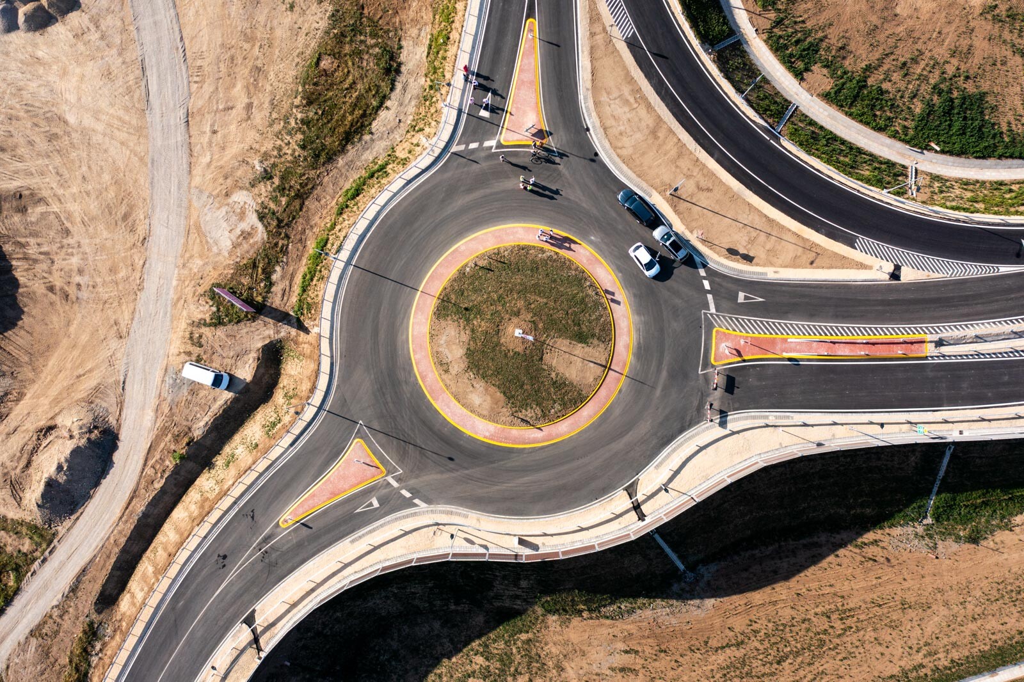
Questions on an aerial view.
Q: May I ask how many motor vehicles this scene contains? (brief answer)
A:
4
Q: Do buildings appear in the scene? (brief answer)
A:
No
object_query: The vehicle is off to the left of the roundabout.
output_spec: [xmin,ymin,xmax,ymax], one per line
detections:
[177,361,230,391]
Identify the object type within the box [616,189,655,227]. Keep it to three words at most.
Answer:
car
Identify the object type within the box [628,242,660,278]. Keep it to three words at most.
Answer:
car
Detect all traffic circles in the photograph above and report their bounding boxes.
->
[307,140,731,520]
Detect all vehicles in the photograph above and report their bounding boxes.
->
[616,189,655,227]
[177,361,230,391]
[652,227,689,264]
[628,242,660,278]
